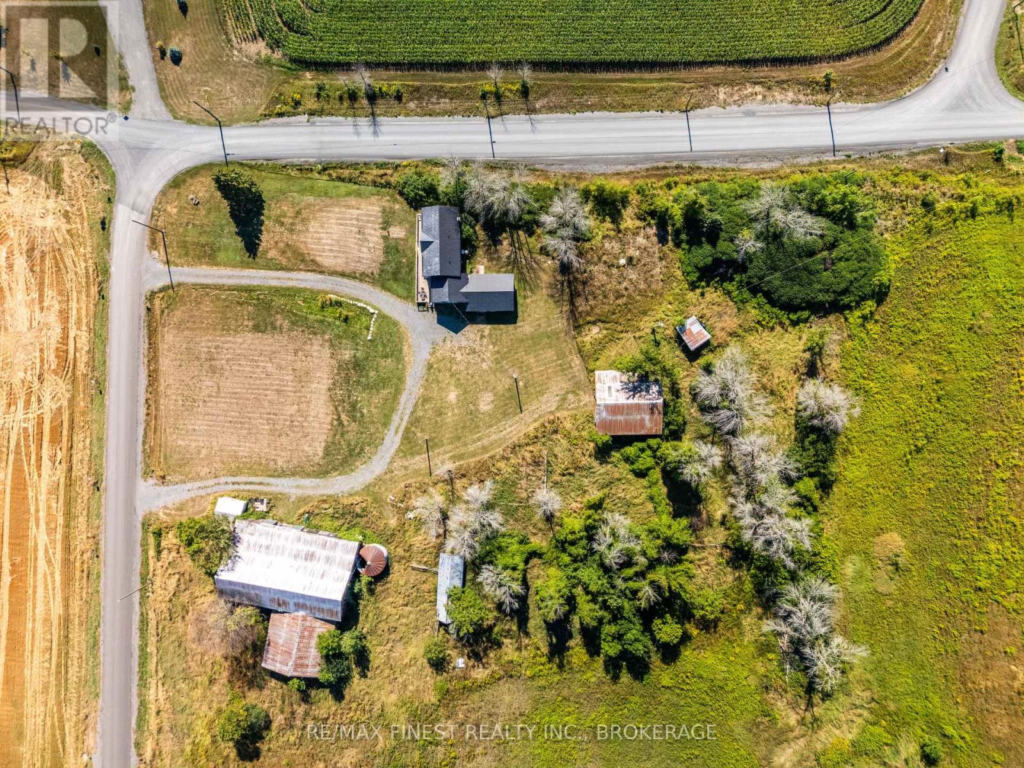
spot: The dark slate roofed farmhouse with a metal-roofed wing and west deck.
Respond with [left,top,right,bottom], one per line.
[415,203,515,312]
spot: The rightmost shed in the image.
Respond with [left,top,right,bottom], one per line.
[674,315,711,350]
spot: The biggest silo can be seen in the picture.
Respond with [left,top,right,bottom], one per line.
[359,543,390,575]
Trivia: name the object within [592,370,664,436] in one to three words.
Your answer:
barn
